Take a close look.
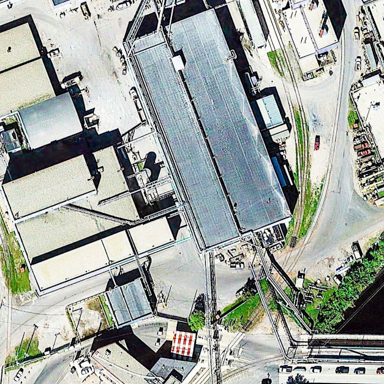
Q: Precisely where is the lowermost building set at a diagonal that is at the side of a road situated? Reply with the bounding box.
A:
[92,343,156,384]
